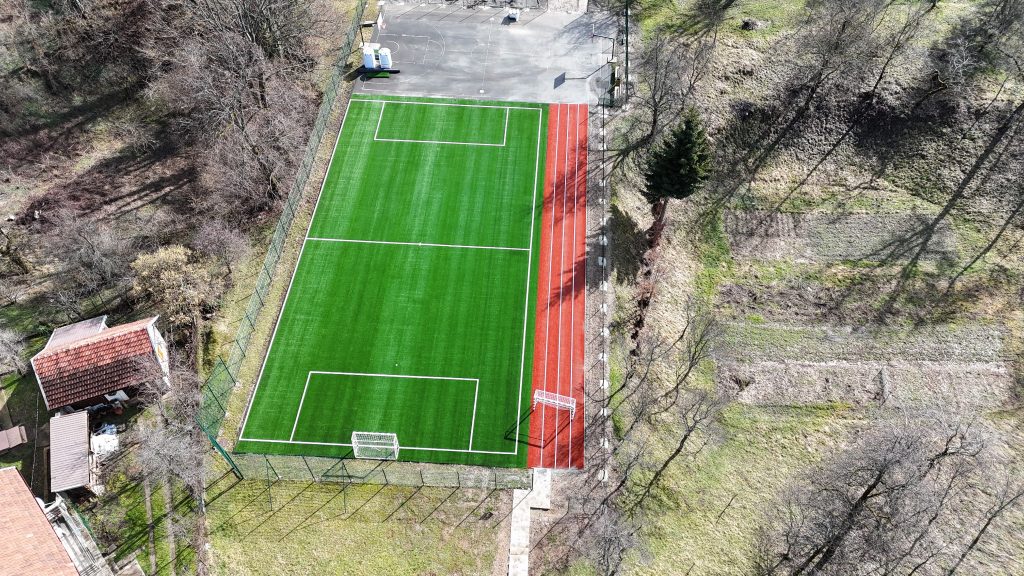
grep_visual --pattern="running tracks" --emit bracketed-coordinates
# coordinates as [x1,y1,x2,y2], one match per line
[527,104,590,470]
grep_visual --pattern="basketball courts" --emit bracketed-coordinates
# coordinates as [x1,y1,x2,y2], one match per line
[349,4,605,104]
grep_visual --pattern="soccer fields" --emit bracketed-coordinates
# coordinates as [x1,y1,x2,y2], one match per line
[232,93,550,469]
